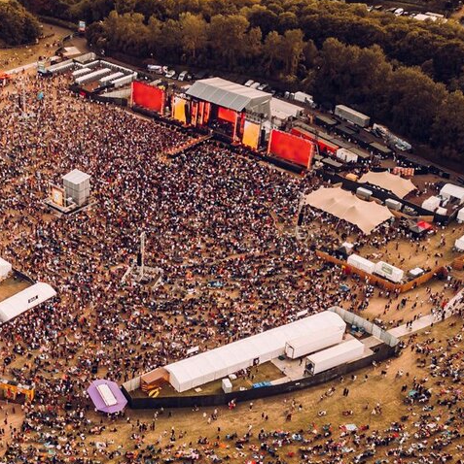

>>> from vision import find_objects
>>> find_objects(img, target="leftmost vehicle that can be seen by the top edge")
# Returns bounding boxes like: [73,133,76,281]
[76,16,91,35]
